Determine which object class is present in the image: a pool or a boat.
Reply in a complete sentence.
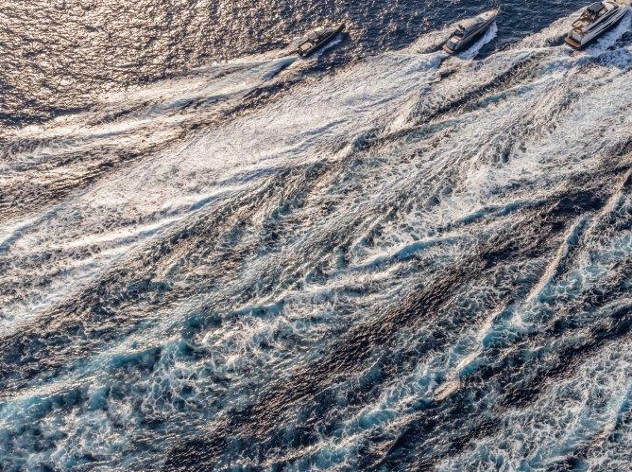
Of the two, only a boat appears.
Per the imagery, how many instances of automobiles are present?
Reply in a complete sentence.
The photo contains no automobiles.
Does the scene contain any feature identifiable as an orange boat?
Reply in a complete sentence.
No, there is no orange boat in the image.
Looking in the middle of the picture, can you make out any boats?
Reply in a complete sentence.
No, I see no boat in the middle of the picture.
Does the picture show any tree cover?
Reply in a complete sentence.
No, there's no tree cover in this view.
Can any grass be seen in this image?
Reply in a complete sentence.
No, no grass is visible.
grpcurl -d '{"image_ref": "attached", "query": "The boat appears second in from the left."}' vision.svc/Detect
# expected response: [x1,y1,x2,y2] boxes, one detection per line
[441,5,500,56]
